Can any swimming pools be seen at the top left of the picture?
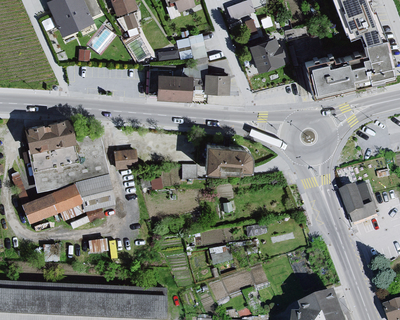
Yes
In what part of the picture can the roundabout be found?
right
